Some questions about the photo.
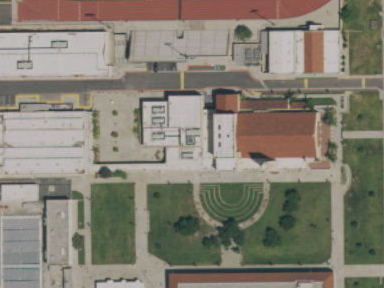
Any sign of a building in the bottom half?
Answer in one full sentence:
Yes, you'll find a building in the bottom half.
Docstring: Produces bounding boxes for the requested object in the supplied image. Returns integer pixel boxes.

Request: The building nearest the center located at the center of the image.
[143,96,210,164]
